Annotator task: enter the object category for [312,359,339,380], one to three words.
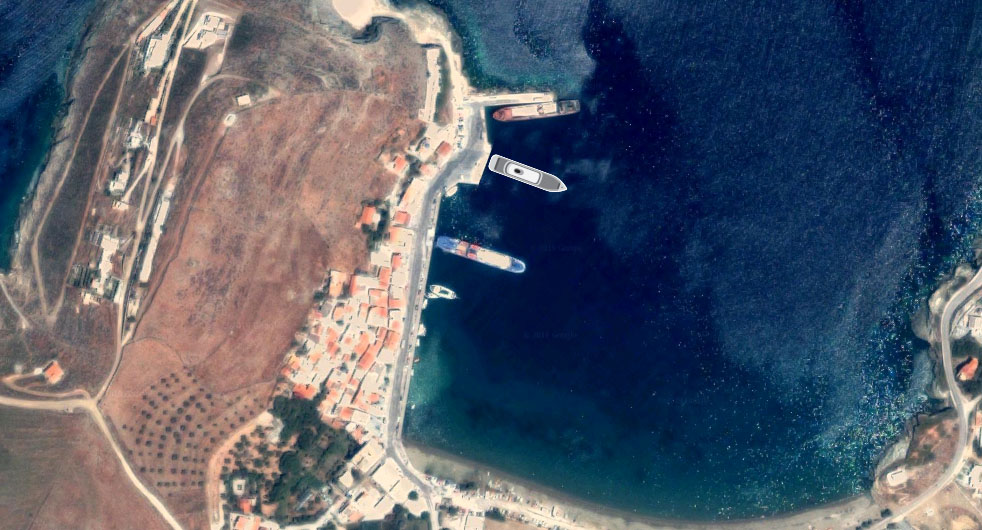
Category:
house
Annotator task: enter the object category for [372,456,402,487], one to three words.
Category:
building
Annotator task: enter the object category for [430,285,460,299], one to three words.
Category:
boat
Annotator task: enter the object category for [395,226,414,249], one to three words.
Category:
house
